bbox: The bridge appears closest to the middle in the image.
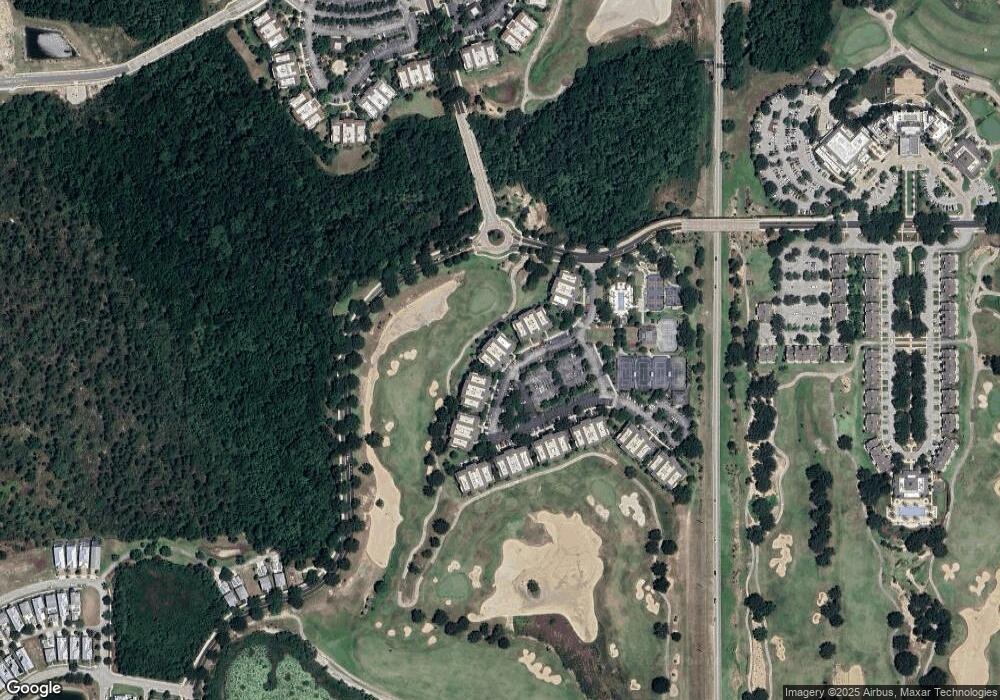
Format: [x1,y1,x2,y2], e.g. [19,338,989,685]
[455,108,496,224]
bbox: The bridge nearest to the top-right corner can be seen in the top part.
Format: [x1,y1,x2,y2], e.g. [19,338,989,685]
[683,218,761,230]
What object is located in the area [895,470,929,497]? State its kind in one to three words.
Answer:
building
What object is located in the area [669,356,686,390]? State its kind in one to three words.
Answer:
tennis court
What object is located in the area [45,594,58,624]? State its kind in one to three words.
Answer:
house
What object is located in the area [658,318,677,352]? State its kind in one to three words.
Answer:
sports court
